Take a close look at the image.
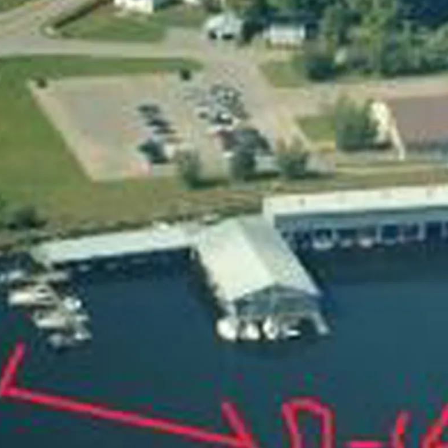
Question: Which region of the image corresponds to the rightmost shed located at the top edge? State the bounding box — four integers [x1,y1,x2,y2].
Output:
[266,22,305,47]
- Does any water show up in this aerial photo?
Yes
